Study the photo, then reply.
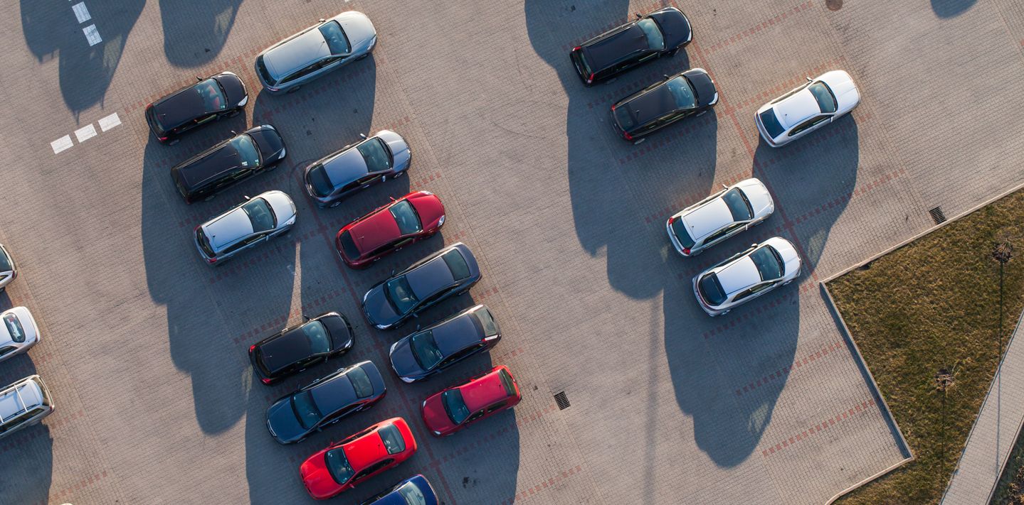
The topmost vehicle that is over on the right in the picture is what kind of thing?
automobile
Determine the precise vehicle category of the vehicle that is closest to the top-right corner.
car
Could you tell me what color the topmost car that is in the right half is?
black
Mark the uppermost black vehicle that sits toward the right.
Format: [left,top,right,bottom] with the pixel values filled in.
[573,11,694,89]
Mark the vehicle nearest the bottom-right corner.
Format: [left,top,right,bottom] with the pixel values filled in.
[695,244,805,317]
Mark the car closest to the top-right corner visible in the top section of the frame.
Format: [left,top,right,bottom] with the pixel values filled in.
[755,77,863,149]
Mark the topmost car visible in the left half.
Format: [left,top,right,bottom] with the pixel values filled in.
[255,12,379,96]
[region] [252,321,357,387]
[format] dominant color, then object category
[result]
black car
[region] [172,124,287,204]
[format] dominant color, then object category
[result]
black car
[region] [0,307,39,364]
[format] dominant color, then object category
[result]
white car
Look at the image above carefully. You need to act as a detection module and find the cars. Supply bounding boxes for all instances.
[147,72,249,144]
[668,182,777,258]
[197,192,299,264]
[267,358,387,445]
[695,244,805,317]
[334,195,448,273]
[252,321,357,387]
[349,471,440,505]
[389,303,503,384]
[300,415,417,499]
[0,371,53,435]
[573,11,694,89]
[363,240,482,329]
[420,365,523,438]
[305,134,414,208]
[255,12,379,96]
[0,242,18,289]
[172,124,287,204]
[755,77,863,149]
[0,307,39,364]
[610,71,720,145]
